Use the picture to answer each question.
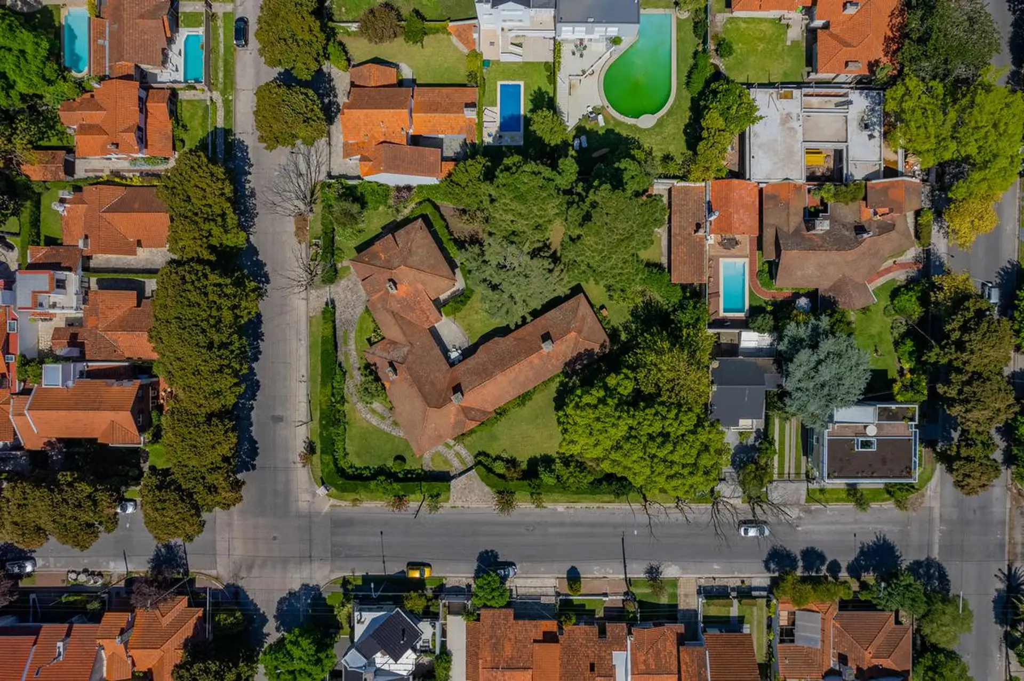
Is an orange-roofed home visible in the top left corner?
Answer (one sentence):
Yes, the scene does show an orange-roofed home in the top left corner.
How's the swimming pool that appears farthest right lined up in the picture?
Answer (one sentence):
What the image shows is the swimming pool that appears farthest right lying up and down.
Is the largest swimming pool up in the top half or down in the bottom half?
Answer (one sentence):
It is in the top half that the largest swimming pool appears.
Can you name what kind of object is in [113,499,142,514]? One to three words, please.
car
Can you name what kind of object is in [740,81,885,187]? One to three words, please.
building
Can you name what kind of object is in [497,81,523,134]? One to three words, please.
swimming pool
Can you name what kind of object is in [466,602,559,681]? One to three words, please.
house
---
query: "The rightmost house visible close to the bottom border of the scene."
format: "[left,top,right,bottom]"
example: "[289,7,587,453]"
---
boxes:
[823,605,912,681]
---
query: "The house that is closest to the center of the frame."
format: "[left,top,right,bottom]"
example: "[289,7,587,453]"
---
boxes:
[350,218,610,458]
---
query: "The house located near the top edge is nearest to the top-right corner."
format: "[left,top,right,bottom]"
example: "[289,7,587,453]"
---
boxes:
[802,0,903,78]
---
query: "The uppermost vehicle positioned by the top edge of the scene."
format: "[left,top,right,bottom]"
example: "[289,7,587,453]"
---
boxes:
[234,17,250,48]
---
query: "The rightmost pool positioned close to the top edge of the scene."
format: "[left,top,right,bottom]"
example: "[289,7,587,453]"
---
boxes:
[599,9,676,122]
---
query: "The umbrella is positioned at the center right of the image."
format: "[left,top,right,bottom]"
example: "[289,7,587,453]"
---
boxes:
[792,295,810,310]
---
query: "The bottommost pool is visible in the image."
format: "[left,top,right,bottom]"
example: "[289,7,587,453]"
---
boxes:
[719,258,748,315]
